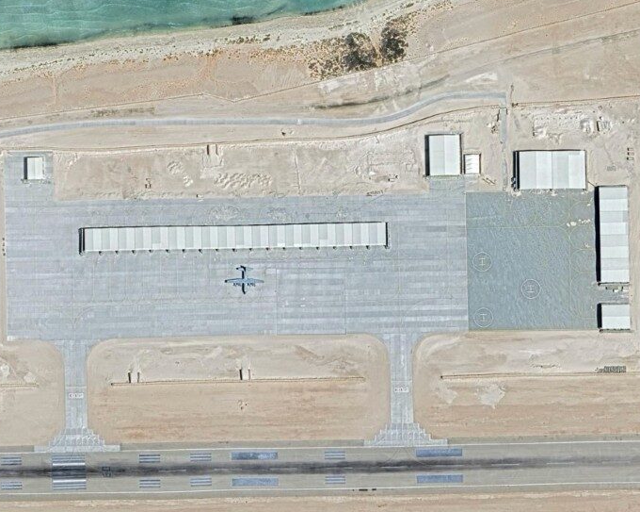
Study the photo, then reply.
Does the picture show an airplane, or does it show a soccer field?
airplane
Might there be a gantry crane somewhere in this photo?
No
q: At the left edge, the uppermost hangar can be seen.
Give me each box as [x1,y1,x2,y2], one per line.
[27,157,44,180]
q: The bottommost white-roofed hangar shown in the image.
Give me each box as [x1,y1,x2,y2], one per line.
[602,305,632,332]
